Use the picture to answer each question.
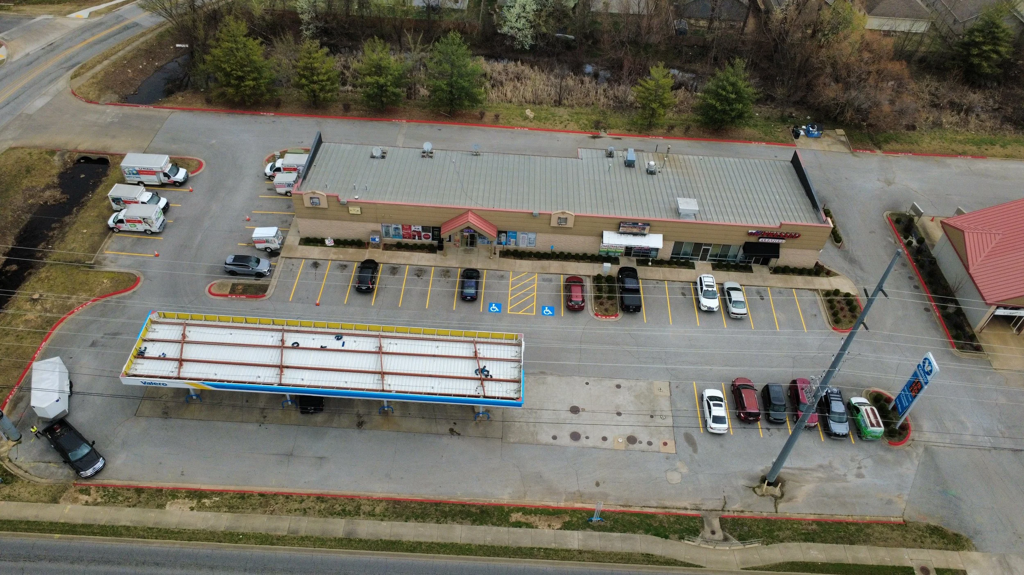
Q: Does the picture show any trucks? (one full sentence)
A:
Yes, you can see a truck in this photo.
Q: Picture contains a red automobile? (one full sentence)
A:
Yes, the picture does show a red automobile.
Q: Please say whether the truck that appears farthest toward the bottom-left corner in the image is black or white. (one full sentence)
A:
In this view, the truck that appears farthest toward the bottom-left corner is black.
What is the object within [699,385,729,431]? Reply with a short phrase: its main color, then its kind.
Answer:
white car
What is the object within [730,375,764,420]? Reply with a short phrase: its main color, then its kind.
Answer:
red car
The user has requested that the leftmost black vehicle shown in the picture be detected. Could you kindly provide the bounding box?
[40,419,108,478]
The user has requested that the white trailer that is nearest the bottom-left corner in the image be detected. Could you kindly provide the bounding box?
[30,355,72,426]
